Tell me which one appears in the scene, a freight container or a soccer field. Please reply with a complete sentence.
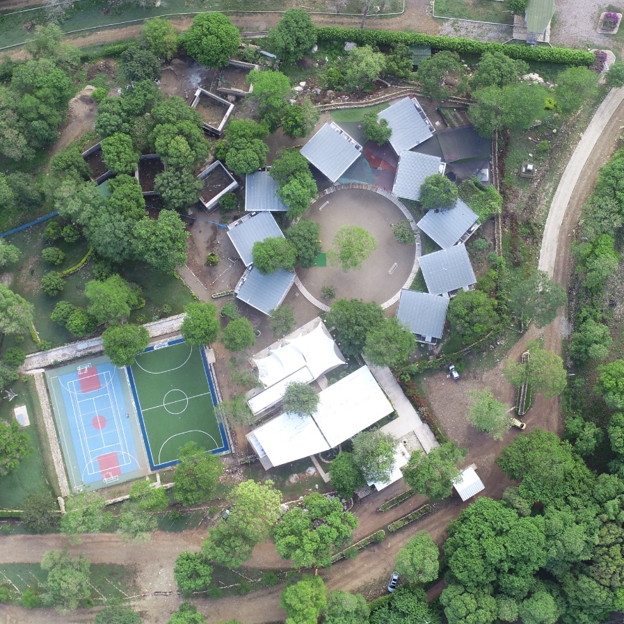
It is a soccer field that can be seen here.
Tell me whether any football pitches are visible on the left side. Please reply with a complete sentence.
Yes, the scene does show a football pitch on the left side.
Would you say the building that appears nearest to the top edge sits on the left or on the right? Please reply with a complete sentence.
It is on the right.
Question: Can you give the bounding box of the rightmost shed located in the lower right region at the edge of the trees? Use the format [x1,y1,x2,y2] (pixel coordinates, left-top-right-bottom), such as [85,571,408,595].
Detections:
[454,461,485,501]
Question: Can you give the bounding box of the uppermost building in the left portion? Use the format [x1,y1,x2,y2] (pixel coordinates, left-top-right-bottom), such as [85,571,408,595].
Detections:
[216,60,260,95]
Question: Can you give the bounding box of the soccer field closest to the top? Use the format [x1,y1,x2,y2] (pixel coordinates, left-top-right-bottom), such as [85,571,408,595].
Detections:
[127,336,229,473]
